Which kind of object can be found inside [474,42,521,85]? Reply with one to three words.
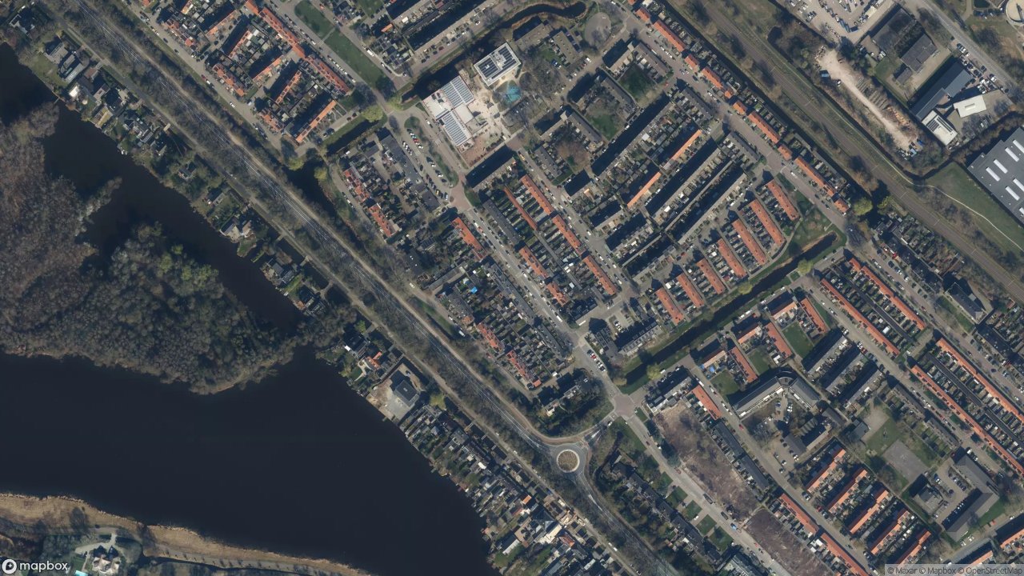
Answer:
building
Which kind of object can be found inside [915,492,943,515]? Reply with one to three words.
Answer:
building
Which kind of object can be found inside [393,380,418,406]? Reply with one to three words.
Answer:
house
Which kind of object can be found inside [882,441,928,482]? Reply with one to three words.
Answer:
sports court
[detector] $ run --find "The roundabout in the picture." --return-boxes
[552,444,585,477]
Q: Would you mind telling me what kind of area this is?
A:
residential area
